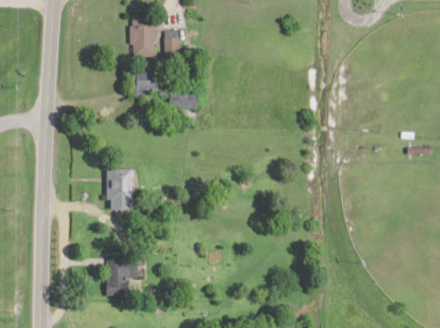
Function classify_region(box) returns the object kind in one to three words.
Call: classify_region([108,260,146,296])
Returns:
house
